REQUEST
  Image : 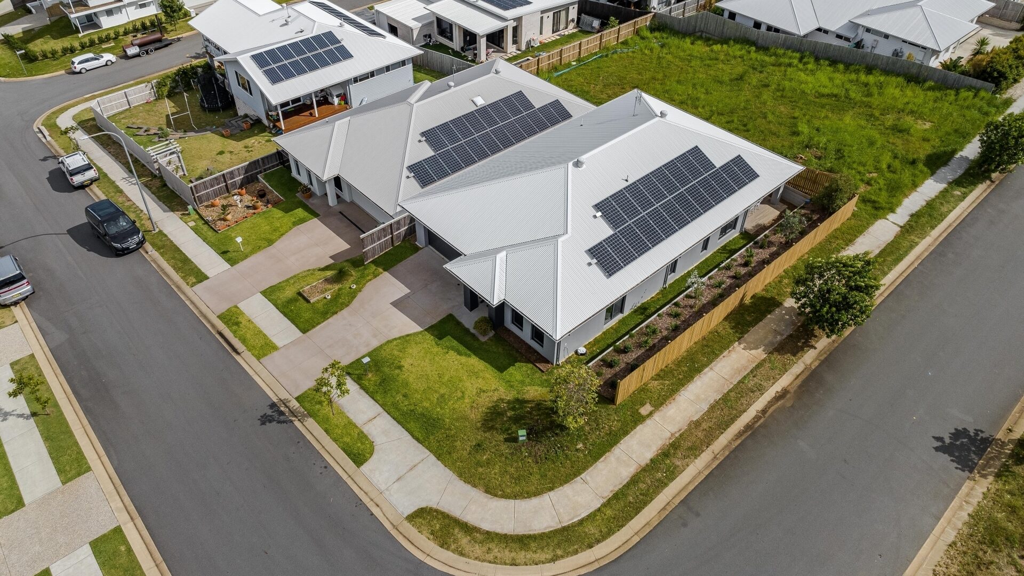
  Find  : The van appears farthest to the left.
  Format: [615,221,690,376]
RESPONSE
[0,249,37,311]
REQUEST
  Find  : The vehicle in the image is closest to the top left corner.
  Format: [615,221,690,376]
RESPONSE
[67,53,118,75]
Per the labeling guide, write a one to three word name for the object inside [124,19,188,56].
trailer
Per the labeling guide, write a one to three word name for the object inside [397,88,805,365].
house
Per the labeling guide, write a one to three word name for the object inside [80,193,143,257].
van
